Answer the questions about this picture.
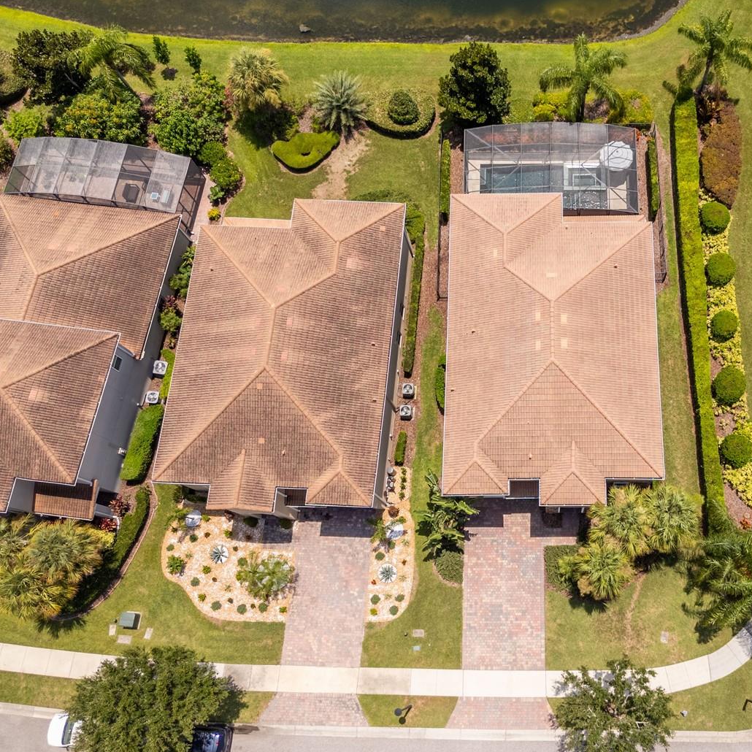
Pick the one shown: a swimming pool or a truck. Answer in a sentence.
This aerial view contains a swimming pool.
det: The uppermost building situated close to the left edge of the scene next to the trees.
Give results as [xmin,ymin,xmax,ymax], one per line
[0,194,192,524]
